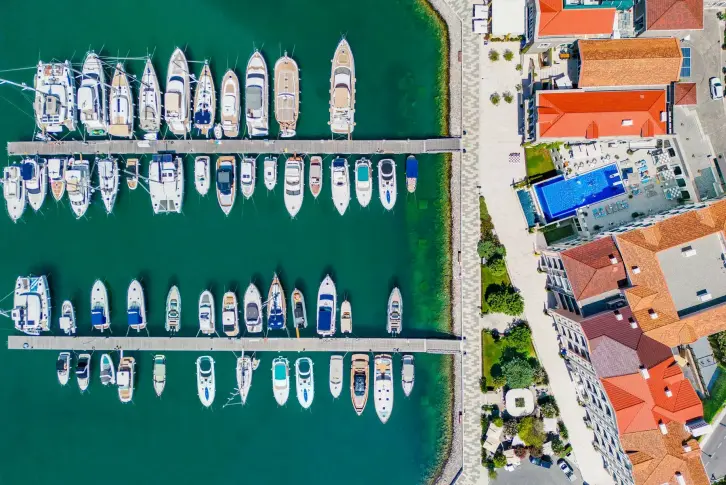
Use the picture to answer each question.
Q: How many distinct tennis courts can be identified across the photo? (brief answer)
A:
0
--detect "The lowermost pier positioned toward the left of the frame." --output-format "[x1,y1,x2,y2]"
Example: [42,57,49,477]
[8,335,462,352]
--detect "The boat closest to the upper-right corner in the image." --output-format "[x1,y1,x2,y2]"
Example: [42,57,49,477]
[402,153,419,201]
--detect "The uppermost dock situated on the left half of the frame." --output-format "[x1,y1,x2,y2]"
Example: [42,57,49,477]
[7,138,463,156]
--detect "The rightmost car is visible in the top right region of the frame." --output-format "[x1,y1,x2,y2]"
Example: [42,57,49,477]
[710,79,722,99]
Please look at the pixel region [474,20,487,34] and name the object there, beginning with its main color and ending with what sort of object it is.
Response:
white umbrella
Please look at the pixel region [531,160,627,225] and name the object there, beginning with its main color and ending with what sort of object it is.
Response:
blue swimming pool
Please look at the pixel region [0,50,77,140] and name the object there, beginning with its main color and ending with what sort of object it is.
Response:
white boat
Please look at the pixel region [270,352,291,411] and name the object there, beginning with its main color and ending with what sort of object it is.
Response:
white boat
